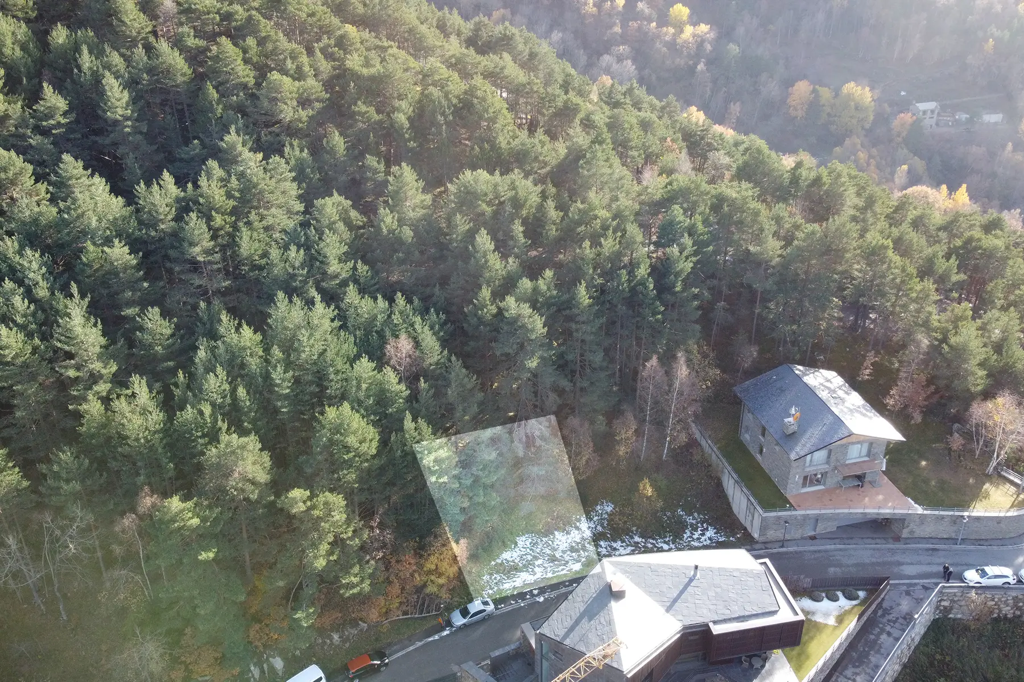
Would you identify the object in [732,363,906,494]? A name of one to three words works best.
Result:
house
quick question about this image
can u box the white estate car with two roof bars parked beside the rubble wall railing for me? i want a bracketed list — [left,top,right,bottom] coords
[957,562,1017,587]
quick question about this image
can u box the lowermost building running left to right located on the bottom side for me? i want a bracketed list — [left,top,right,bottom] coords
[538,549,804,682]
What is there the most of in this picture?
trees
